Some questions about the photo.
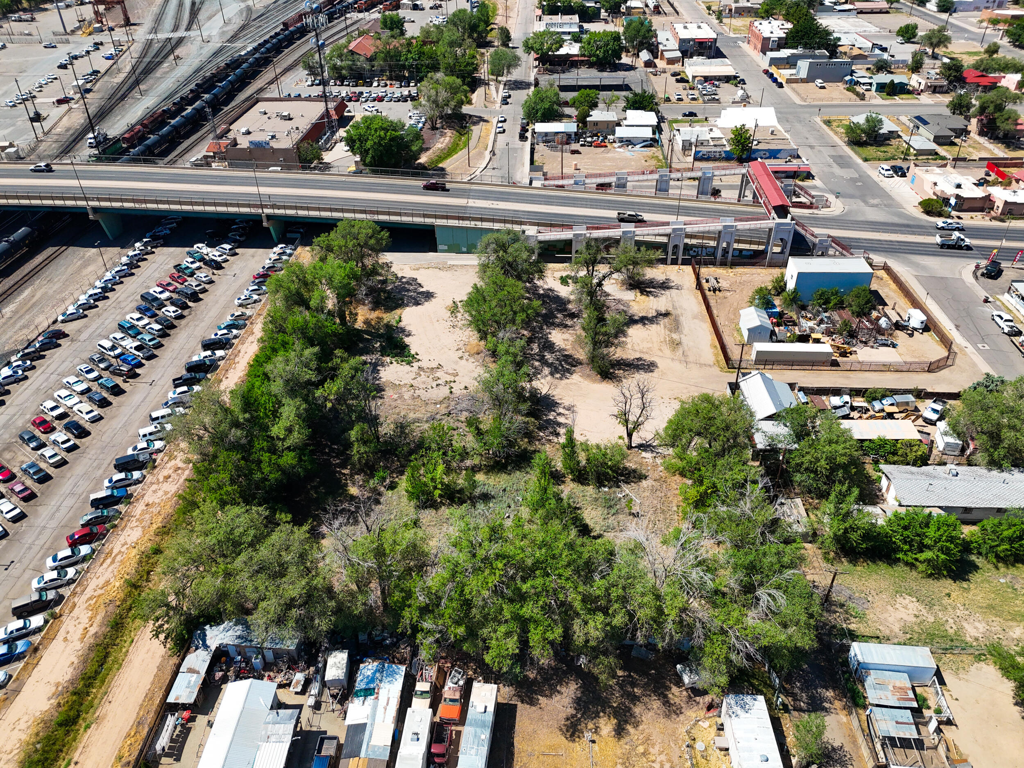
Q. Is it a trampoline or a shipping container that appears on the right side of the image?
shipping container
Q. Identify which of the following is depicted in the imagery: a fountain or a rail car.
rail car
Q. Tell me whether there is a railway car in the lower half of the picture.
No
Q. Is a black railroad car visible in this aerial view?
Yes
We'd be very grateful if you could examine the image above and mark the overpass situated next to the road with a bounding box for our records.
[0,162,820,257]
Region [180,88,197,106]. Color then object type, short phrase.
black rail car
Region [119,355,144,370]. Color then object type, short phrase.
blue car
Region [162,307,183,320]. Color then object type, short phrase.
white vehicle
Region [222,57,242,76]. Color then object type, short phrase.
black rail car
